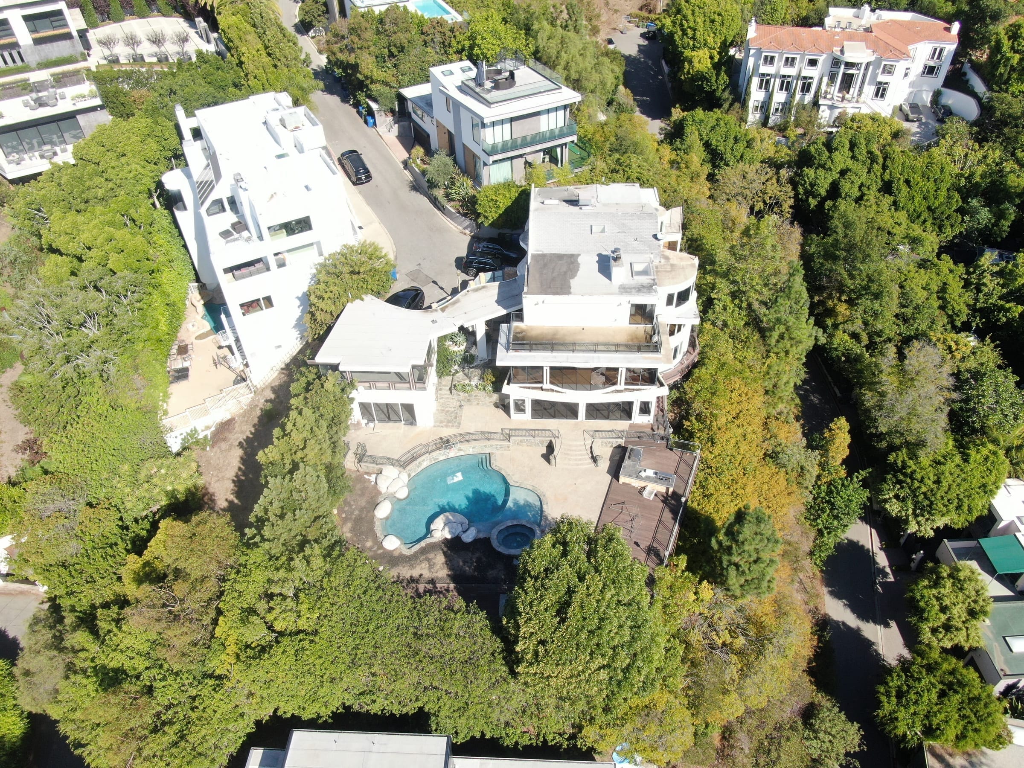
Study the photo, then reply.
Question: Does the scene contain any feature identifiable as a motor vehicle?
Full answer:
Yes, there's a motor vehicle here.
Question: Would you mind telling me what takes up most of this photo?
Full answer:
The scene is dominated by trees.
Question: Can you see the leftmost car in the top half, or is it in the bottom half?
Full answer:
The top half of the photo is where the leftmost car is.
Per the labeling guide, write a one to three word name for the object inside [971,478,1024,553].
house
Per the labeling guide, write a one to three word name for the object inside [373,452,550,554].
swimming pool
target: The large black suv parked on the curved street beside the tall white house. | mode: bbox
[339,153,374,192]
